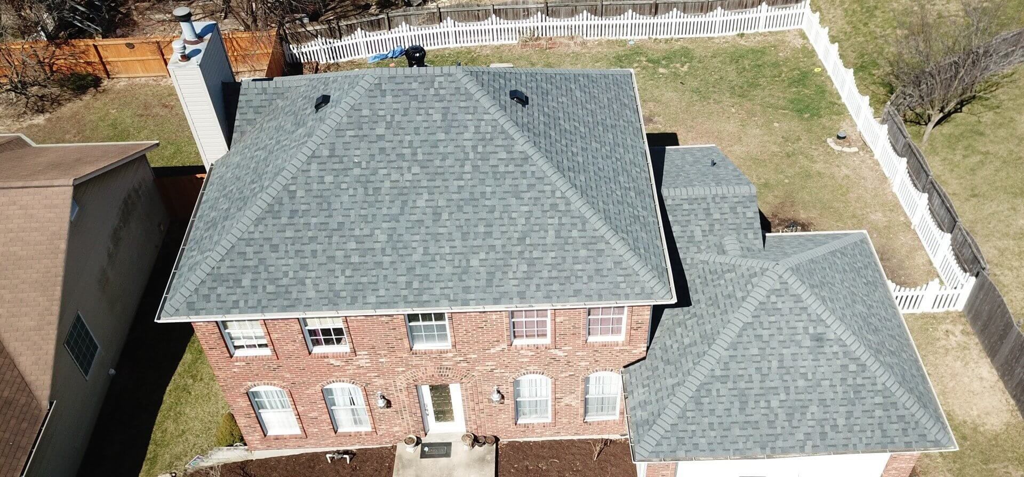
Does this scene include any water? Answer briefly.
No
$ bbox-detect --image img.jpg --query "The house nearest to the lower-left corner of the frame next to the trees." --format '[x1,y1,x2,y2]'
[0,125,173,477]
